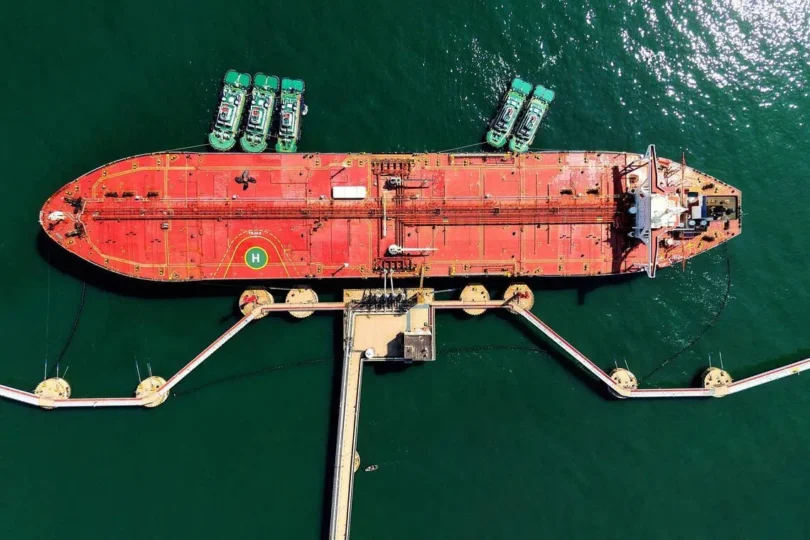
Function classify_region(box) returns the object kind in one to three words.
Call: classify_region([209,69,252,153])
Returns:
boat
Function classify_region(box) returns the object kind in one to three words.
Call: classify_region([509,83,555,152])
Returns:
boat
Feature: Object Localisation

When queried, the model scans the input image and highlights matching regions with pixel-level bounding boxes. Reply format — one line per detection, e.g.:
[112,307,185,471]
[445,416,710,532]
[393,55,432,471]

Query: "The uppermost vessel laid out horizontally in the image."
[39,142,742,280]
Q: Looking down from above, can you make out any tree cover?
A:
No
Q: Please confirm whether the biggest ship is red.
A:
Yes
